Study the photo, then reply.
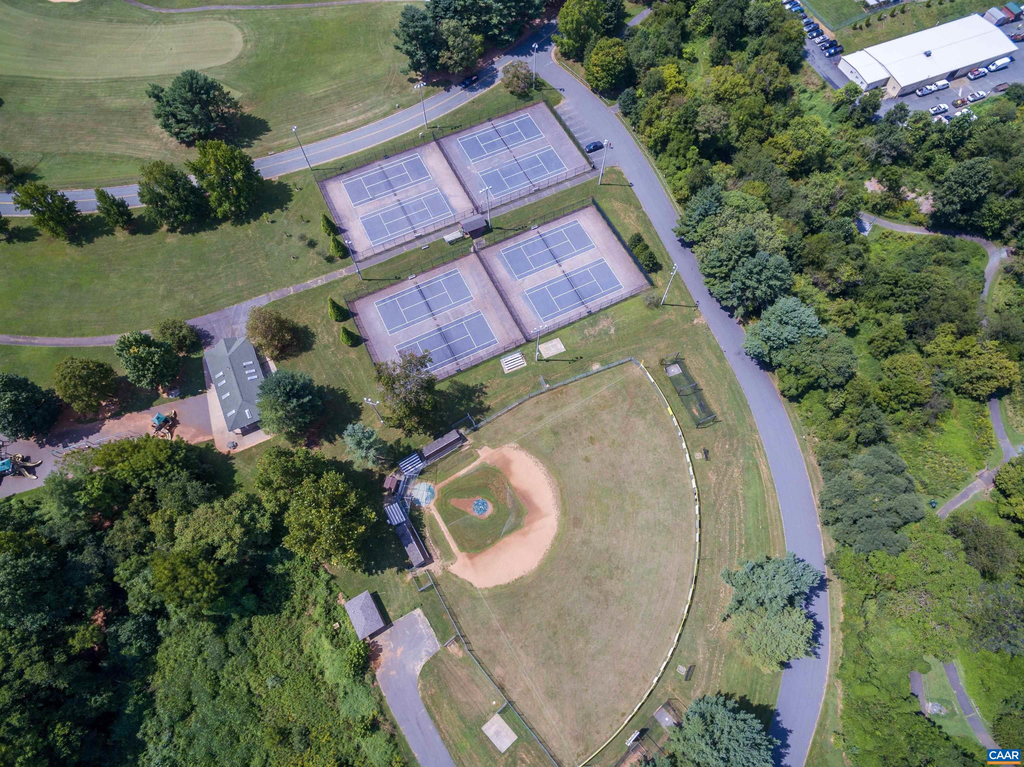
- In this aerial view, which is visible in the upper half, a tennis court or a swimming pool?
tennis court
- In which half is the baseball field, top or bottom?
bottom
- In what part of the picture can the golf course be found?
top left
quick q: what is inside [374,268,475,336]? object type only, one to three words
tennis court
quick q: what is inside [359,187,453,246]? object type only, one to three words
tennis court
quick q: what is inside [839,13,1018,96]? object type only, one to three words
building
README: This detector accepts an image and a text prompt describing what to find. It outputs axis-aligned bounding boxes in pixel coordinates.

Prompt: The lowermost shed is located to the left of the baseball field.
[345,590,385,638]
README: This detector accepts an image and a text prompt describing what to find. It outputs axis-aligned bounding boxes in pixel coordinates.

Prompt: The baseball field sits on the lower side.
[407,361,698,767]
